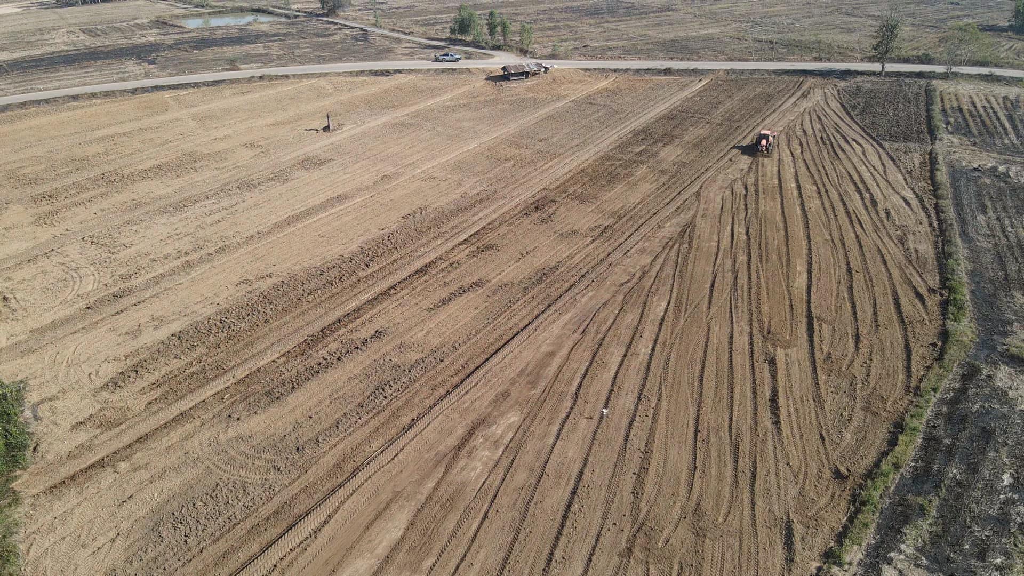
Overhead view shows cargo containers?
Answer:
No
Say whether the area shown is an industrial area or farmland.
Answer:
farmland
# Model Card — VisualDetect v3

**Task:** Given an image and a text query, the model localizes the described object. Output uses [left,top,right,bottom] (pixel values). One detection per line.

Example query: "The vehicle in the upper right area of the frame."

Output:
[752,128,774,155]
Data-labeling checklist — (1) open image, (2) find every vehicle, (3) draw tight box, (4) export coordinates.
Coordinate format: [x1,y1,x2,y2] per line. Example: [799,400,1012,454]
[436,52,462,62]
[752,128,774,155]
